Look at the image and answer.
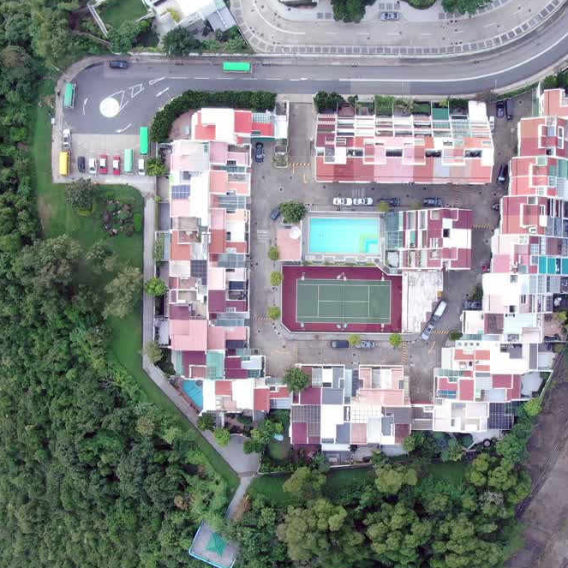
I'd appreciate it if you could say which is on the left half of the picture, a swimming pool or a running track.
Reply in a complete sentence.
There is a swimming pool on the left half of the picture.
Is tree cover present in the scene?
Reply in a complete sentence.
Yes, there's tree cover in this view.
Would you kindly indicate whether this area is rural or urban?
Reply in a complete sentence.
It looks urban.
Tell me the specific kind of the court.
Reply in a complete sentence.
It looks like the court is a tennis court.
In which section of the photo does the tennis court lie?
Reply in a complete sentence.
The tennis court is in the center part of the image.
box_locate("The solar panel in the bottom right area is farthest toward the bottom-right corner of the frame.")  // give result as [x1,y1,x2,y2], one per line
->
[489,403,512,429]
